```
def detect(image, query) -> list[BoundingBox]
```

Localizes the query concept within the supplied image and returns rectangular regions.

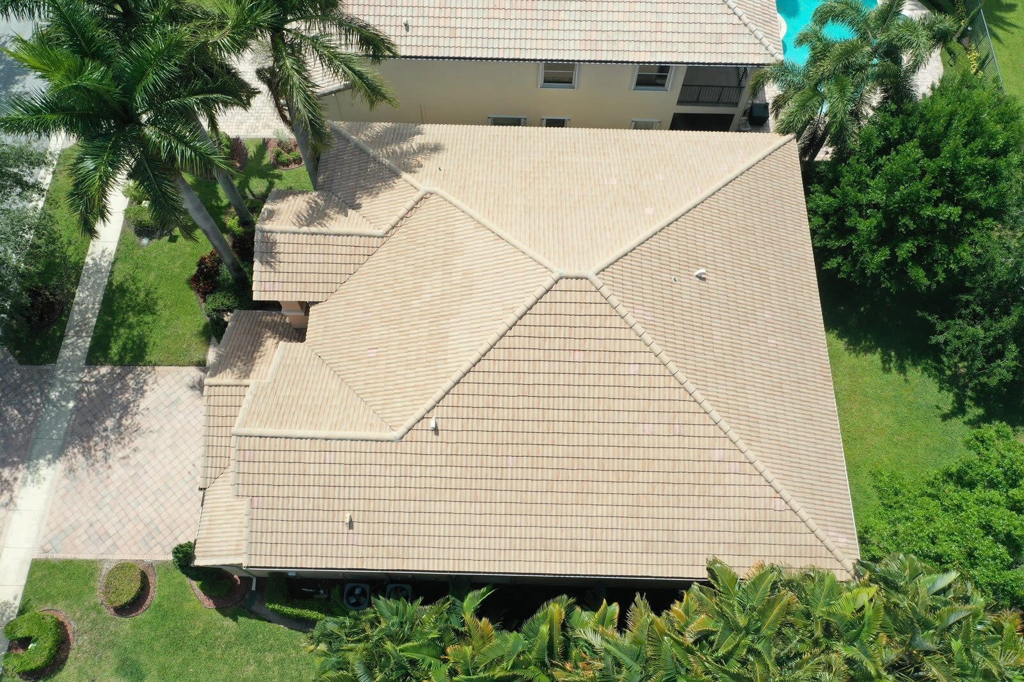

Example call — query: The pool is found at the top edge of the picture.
[775,0,881,113]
